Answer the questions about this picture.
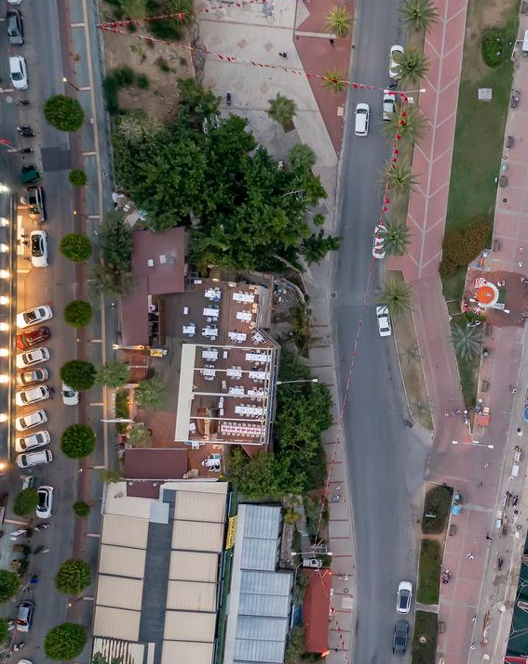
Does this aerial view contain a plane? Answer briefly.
No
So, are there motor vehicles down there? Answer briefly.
Yes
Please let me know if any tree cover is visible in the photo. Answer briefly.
Yes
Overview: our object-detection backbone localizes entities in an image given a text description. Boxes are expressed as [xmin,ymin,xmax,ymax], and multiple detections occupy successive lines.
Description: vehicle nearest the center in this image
[375,303,392,338]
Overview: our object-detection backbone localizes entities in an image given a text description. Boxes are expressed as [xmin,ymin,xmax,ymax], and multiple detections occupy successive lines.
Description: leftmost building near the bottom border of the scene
[92,479,235,664]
